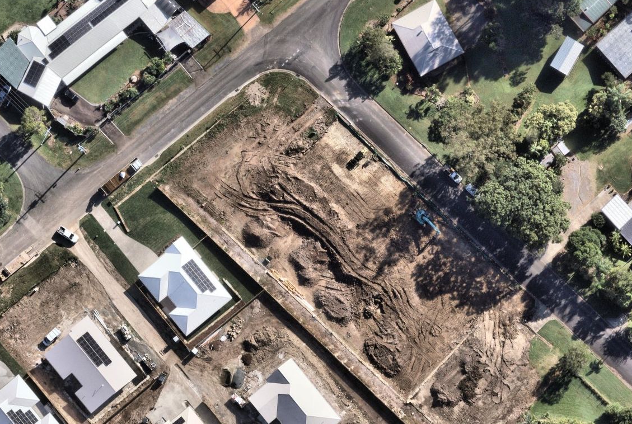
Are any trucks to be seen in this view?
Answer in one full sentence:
Yes, this view includes a truck.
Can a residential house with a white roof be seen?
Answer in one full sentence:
Yes, the image includes a residential house with a white roof.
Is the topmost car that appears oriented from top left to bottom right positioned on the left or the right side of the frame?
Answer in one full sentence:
The topmost car that appears oriented from top left to bottom right appears in the left half of the scene.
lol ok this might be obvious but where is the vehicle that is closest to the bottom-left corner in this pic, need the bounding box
[38,324,65,349]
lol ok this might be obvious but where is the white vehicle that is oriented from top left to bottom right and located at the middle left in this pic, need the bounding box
[54,222,81,248]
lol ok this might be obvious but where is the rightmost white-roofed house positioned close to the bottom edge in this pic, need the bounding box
[248,358,341,424]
